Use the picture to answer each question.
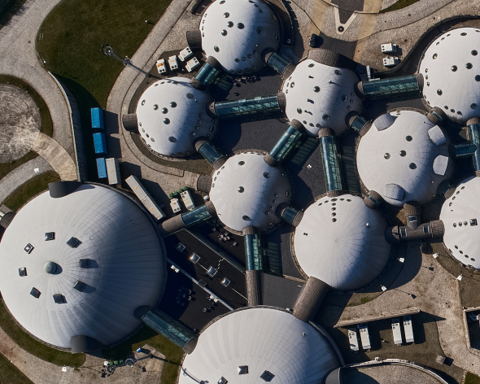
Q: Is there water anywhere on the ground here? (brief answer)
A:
No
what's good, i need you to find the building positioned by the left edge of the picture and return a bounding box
[0,176,167,355]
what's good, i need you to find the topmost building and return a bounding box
[185,0,281,74]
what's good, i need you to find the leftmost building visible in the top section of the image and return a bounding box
[119,76,215,156]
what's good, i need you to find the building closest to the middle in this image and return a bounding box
[198,149,293,233]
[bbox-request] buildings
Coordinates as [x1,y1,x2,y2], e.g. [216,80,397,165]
[291,190,394,293]
[438,174,480,271]
[418,25,480,125]
[119,76,215,156]
[354,108,455,208]
[198,149,293,233]
[280,48,363,140]
[0,176,167,355]
[176,308,350,384]
[185,0,281,74]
